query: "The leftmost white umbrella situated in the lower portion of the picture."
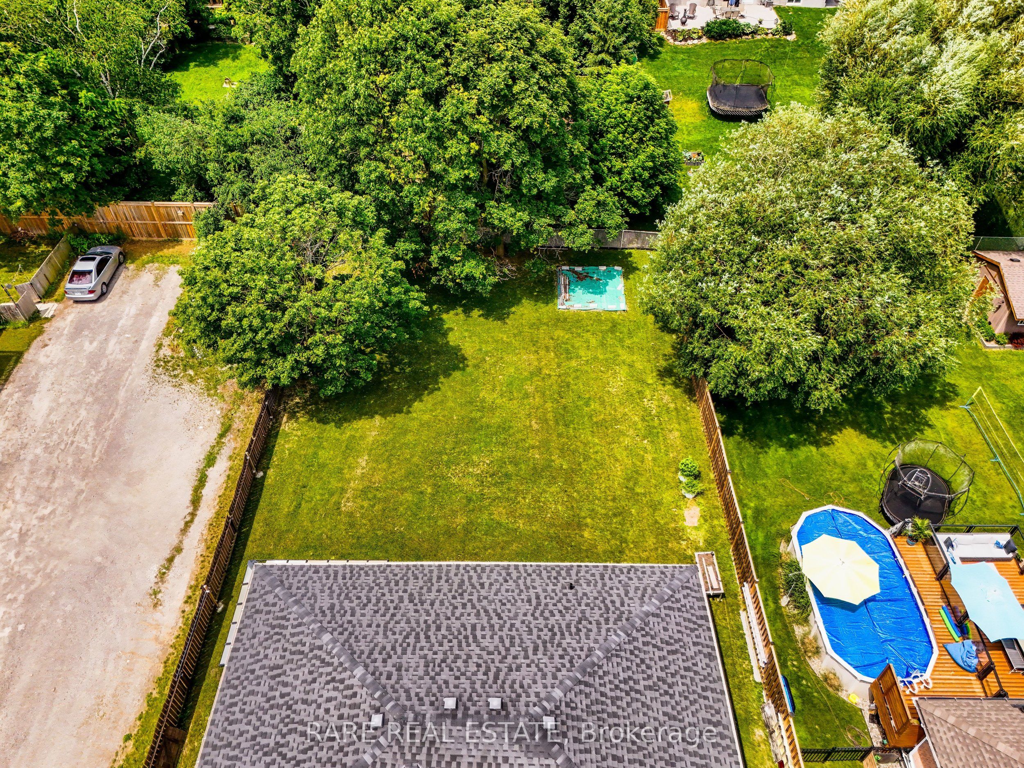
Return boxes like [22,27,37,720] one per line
[795,534,880,610]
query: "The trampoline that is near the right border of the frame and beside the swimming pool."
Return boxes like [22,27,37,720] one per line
[874,437,975,534]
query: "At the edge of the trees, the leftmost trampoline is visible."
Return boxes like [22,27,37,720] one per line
[702,60,779,124]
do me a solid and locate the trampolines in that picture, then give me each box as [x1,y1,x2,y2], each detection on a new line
[874,437,975,534]
[702,60,779,124]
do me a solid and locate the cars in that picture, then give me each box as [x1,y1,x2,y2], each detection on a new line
[57,243,125,306]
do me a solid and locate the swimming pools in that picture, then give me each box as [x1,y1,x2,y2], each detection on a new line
[782,504,940,703]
